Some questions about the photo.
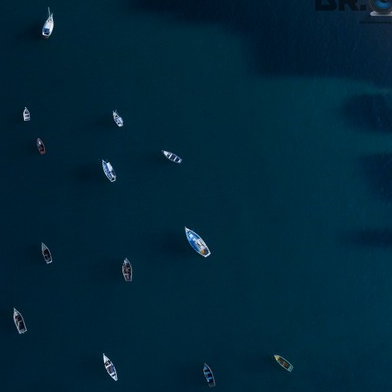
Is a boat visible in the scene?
Yes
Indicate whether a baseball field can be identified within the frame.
No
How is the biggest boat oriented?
at an angle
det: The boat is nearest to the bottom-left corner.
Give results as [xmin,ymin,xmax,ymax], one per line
[13,308,26,334]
